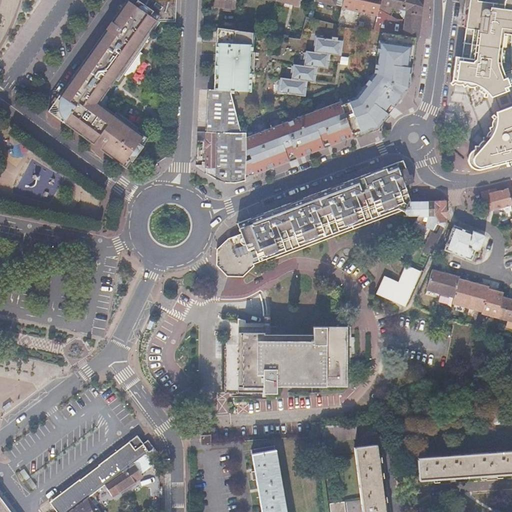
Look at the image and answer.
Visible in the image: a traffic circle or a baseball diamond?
traffic circle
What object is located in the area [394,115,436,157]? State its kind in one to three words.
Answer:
roundabout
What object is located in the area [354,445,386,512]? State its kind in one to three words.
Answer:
building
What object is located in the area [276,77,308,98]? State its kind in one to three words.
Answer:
house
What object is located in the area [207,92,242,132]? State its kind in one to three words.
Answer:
building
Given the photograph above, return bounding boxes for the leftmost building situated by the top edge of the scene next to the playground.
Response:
[48,1,160,169]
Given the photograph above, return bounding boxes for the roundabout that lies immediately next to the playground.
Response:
[128,184,212,267]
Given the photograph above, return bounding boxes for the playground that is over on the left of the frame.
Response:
[0,130,102,214]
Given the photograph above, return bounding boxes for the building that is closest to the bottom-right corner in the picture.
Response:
[418,452,512,483]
